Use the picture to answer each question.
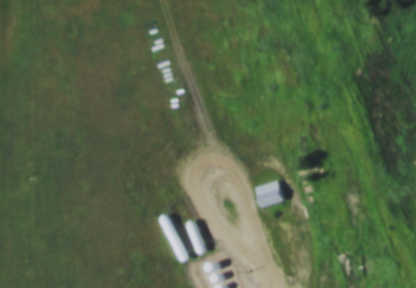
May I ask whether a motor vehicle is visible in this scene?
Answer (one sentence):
No, no motor vehicle is visible in the scene.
